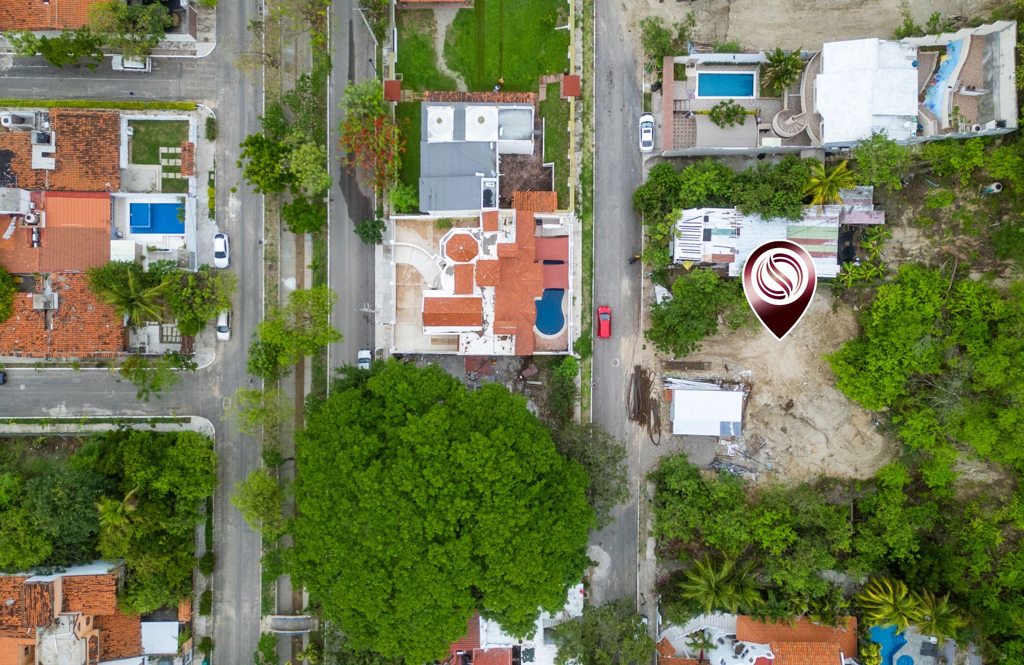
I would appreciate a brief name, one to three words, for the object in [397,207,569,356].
house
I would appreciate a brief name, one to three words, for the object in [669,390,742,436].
shed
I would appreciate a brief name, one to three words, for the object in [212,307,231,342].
car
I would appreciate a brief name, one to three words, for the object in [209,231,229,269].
car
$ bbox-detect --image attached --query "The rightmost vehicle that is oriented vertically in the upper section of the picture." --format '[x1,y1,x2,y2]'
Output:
[638,111,657,153]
